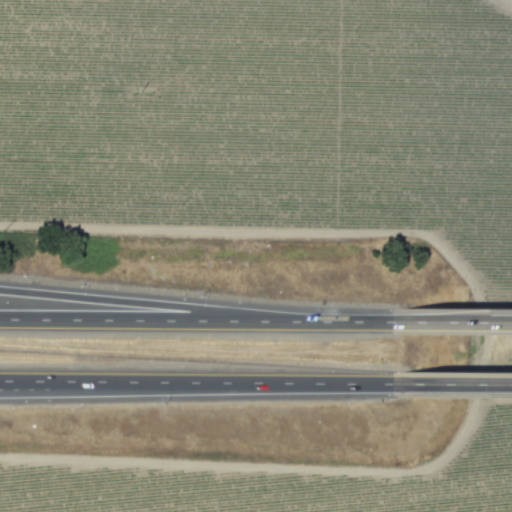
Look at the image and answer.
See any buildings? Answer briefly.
No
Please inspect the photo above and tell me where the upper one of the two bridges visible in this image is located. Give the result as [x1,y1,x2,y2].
[394,309,512,336]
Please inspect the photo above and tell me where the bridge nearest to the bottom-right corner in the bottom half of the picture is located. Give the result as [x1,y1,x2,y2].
[394,372,512,399]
